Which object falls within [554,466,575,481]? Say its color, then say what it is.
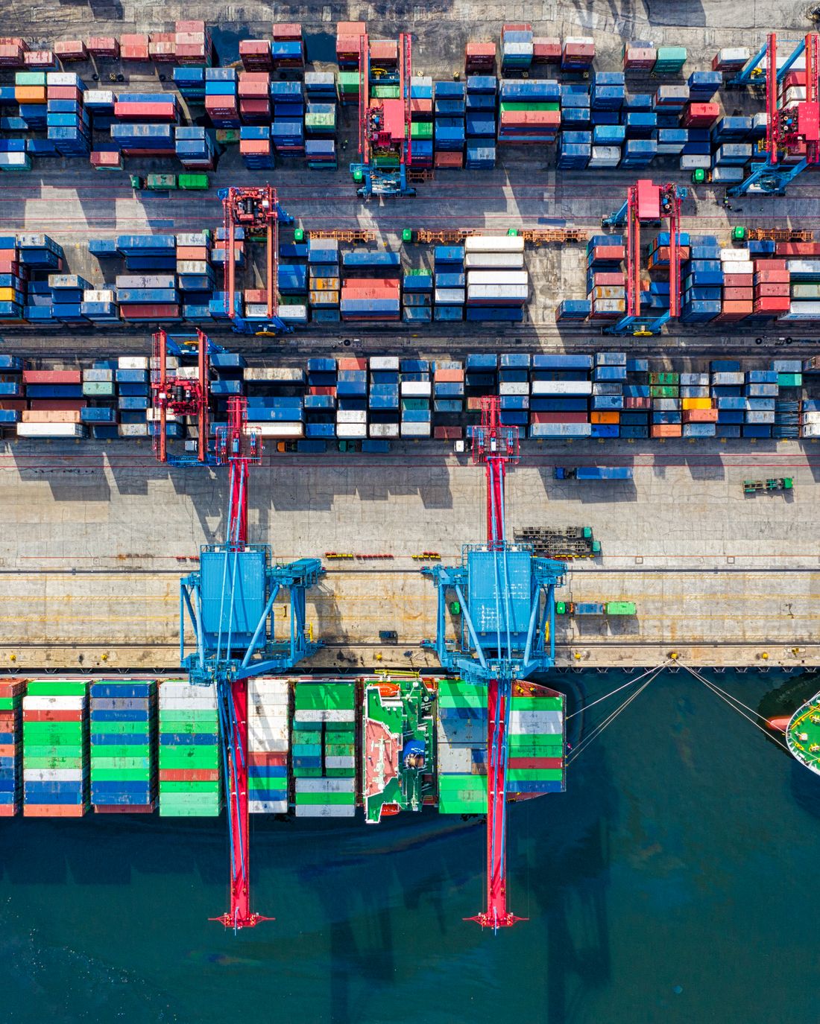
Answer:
blue vehicle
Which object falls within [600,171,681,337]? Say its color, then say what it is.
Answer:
red container crane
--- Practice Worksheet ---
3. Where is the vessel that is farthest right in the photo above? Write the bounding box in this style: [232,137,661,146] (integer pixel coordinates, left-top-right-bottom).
[769,692,820,774]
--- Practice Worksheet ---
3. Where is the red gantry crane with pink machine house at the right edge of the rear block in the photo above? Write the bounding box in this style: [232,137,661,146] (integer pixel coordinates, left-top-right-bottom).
[723,33,820,195]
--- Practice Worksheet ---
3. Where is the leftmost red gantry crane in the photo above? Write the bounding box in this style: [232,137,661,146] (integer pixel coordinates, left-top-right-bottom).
[155,326,235,464]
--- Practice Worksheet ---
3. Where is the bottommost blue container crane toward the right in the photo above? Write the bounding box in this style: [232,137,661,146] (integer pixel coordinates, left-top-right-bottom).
[417,399,568,941]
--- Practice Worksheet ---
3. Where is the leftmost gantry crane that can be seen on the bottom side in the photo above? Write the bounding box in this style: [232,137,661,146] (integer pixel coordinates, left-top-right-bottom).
[176,399,332,942]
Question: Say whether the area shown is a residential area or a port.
port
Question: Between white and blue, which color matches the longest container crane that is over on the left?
blue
